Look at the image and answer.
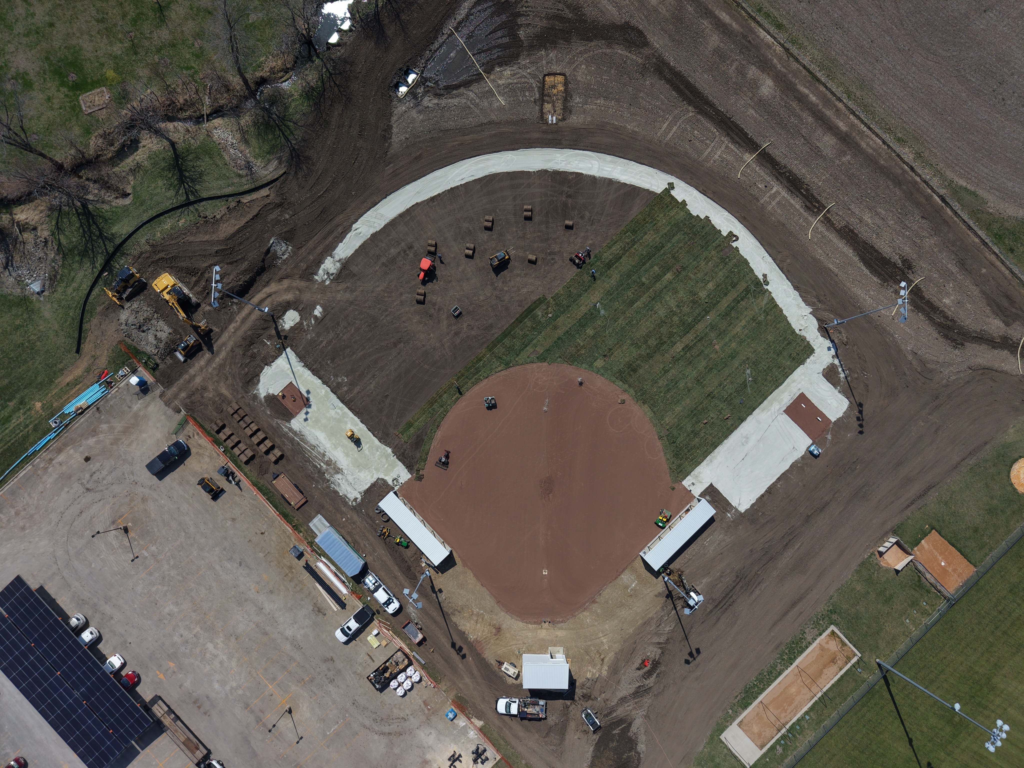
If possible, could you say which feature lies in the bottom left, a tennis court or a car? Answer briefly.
car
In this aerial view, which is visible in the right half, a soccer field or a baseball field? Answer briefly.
baseball field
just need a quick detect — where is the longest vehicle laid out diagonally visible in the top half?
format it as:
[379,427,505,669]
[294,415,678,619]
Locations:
[154,275,210,334]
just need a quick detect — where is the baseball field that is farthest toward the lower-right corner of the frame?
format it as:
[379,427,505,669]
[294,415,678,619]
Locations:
[780,522,1024,768]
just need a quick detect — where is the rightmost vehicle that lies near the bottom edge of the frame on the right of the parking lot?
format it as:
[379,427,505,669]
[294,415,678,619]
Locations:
[577,700,602,734]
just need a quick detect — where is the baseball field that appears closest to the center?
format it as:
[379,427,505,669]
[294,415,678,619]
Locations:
[325,148,849,625]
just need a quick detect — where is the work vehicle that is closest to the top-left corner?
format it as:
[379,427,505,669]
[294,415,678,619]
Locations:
[105,267,146,306]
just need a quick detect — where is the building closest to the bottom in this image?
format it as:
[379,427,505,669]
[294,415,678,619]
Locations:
[522,640,571,696]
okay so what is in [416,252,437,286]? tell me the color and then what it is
red work vehicle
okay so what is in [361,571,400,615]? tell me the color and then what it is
white truck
